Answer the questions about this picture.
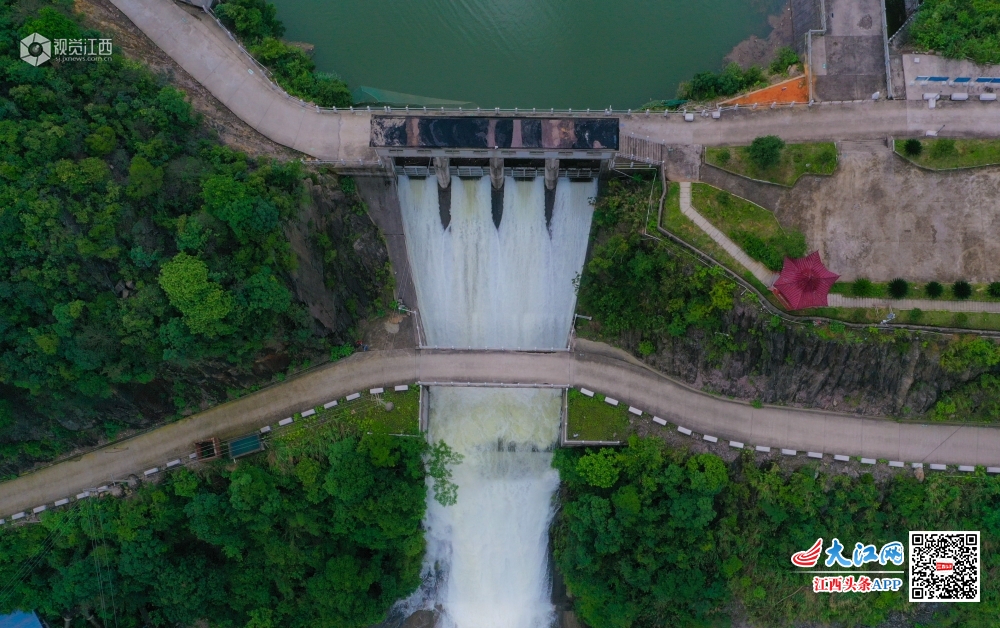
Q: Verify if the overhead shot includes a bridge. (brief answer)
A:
Yes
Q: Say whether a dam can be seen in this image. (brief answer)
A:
Yes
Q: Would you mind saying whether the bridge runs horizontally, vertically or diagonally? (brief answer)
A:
horizontally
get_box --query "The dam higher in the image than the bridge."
[319,105,726,347]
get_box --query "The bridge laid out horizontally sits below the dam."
[415,346,576,388]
